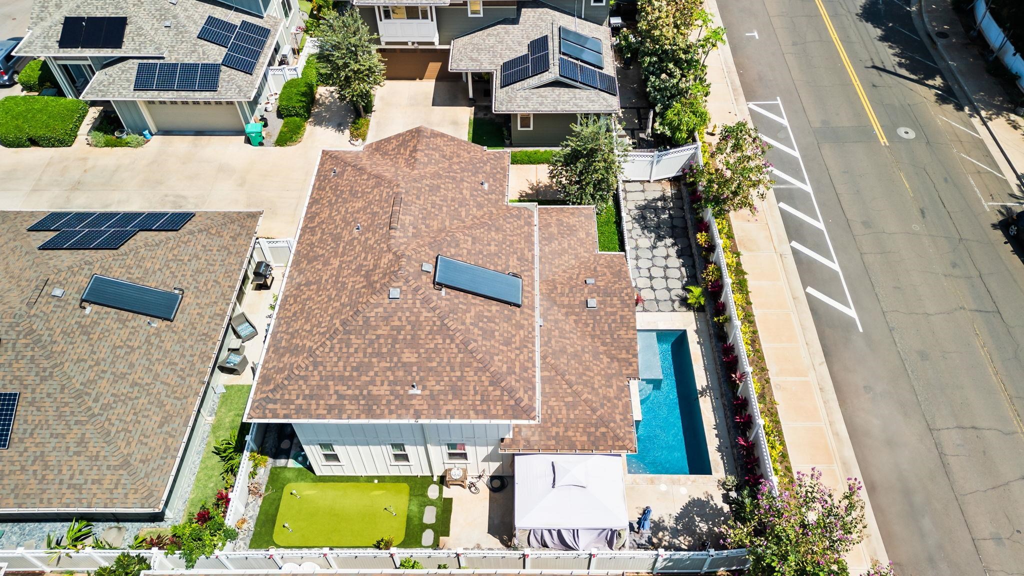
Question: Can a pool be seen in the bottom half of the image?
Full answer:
Yes, the scene does show a pool in the bottom half of the image.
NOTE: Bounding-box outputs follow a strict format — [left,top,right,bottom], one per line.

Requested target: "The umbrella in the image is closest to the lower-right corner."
[633,510,655,544]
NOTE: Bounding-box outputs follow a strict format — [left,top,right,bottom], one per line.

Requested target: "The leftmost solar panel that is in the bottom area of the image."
[0,392,22,446]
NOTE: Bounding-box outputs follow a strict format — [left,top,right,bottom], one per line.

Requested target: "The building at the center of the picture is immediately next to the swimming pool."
[240,124,645,482]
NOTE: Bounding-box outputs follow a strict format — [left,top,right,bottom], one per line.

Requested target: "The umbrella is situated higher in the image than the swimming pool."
[641,108,654,147]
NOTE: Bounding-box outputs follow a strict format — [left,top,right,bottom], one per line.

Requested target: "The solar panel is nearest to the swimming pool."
[436,251,524,305]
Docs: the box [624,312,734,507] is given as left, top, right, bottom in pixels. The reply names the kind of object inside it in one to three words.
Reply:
swimming pool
